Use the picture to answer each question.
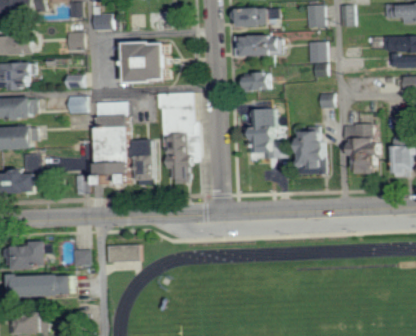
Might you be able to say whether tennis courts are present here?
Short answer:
No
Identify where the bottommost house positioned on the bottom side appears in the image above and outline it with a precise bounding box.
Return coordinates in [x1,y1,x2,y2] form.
[9,312,52,336]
